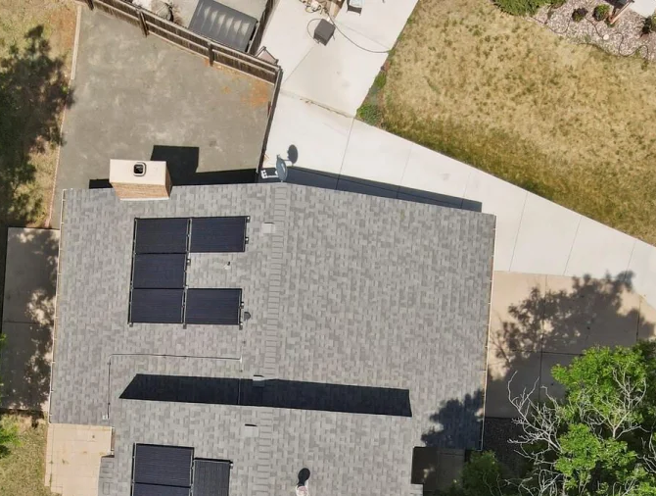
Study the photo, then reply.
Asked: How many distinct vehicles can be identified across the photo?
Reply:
zero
